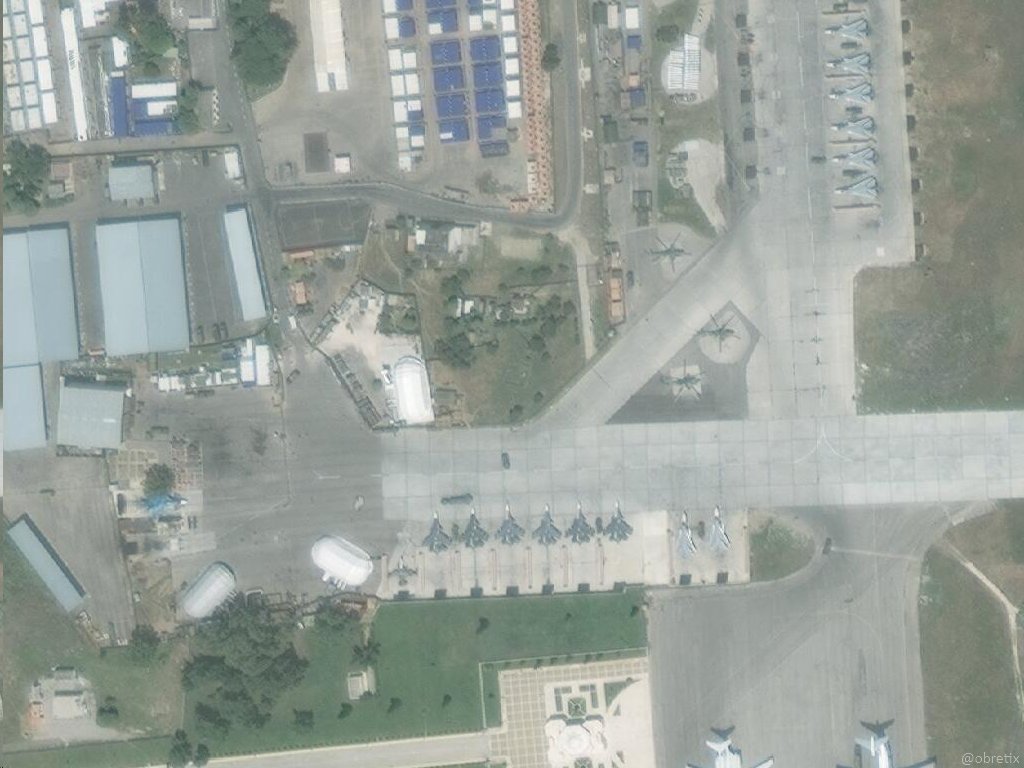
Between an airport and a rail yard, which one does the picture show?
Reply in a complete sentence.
It's an airport.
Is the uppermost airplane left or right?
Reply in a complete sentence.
It is on the right.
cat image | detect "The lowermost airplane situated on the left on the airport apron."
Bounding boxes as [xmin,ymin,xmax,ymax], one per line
[388,558,416,588]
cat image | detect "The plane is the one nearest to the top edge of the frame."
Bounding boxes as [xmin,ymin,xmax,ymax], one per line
[823,20,866,42]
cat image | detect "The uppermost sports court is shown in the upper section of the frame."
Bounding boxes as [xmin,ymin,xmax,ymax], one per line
[304,132,329,173]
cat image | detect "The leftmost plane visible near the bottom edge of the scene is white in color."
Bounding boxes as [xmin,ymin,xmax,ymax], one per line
[685,734,737,768]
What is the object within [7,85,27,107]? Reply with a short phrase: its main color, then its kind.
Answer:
white tent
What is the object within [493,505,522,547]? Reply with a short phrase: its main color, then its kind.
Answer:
gray airplane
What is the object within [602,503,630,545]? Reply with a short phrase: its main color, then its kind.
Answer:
gray airplane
